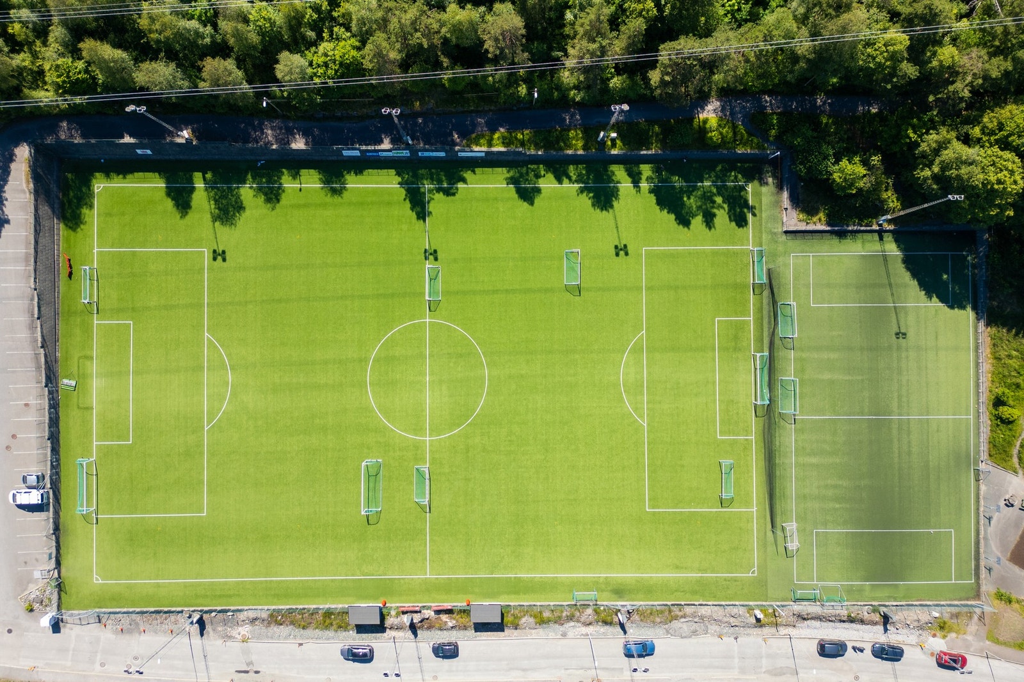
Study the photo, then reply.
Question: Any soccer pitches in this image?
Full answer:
Yes, the image includes a soccer pitch.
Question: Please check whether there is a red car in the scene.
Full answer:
Yes, the frame does contain a red car.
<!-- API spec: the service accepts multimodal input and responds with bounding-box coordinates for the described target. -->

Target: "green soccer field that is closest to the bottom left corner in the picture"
[57,156,767,610]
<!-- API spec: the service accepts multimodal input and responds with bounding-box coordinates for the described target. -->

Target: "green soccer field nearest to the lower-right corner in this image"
[762,157,982,605]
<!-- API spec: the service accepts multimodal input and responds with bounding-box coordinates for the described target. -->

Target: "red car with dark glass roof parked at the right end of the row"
[934,649,967,668]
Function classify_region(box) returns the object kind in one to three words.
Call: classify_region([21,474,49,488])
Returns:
car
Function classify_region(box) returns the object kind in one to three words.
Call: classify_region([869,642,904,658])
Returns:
car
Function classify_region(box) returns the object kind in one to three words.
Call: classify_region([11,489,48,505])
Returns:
vehicle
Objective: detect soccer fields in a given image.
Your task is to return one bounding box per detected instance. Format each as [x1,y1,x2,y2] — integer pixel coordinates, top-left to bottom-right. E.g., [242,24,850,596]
[57,156,767,610]
[762,157,982,605]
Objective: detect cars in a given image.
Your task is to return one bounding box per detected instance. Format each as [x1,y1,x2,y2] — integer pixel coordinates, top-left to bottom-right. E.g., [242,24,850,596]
[341,643,374,659]
[432,642,460,657]
[622,639,654,656]
[934,649,967,668]
[815,639,847,656]
[21,474,49,488]
[869,642,904,658]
